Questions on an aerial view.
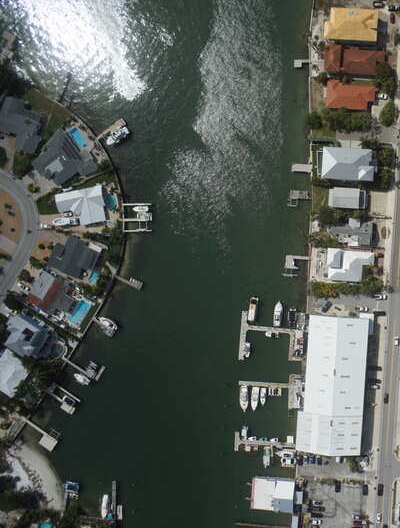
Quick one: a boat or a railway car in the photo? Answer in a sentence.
It is a boat that can be seen here.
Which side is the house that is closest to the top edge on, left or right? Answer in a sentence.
You can find the house that is closest to the top edge on the right side of the picture.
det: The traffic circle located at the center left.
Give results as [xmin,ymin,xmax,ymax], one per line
[0,170,41,284]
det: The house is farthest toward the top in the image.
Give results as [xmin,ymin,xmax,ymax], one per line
[323,7,378,46]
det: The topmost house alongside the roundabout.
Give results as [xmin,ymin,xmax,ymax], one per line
[0,95,50,155]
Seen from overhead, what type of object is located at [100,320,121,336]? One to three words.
boat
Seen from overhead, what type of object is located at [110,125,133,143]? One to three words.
boat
